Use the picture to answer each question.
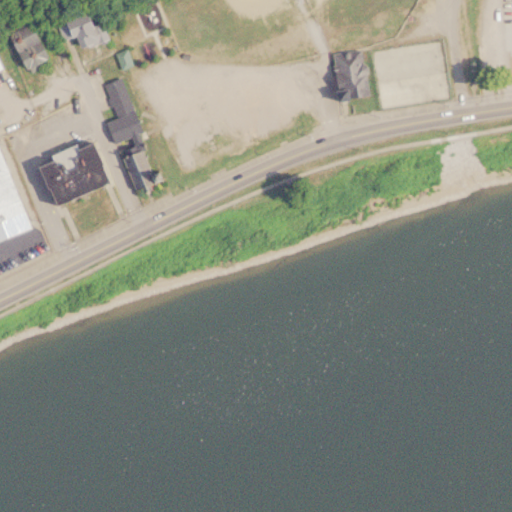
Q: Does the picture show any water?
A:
Yes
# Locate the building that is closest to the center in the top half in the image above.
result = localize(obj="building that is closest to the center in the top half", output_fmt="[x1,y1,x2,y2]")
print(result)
[124,152,162,188]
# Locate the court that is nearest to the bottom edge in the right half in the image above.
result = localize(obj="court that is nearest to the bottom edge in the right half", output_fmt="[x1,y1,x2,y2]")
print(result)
[376,73,448,109]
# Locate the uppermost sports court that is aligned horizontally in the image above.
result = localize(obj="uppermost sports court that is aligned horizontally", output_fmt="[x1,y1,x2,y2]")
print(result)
[373,42,444,83]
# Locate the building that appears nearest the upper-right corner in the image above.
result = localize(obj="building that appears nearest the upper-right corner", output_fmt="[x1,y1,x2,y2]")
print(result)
[333,48,372,100]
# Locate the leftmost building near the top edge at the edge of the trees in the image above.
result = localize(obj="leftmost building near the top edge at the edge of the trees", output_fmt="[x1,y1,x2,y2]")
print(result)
[12,25,46,71]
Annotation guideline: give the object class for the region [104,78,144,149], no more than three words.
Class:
building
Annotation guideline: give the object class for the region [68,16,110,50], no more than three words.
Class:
house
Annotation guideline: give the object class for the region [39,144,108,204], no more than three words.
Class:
building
